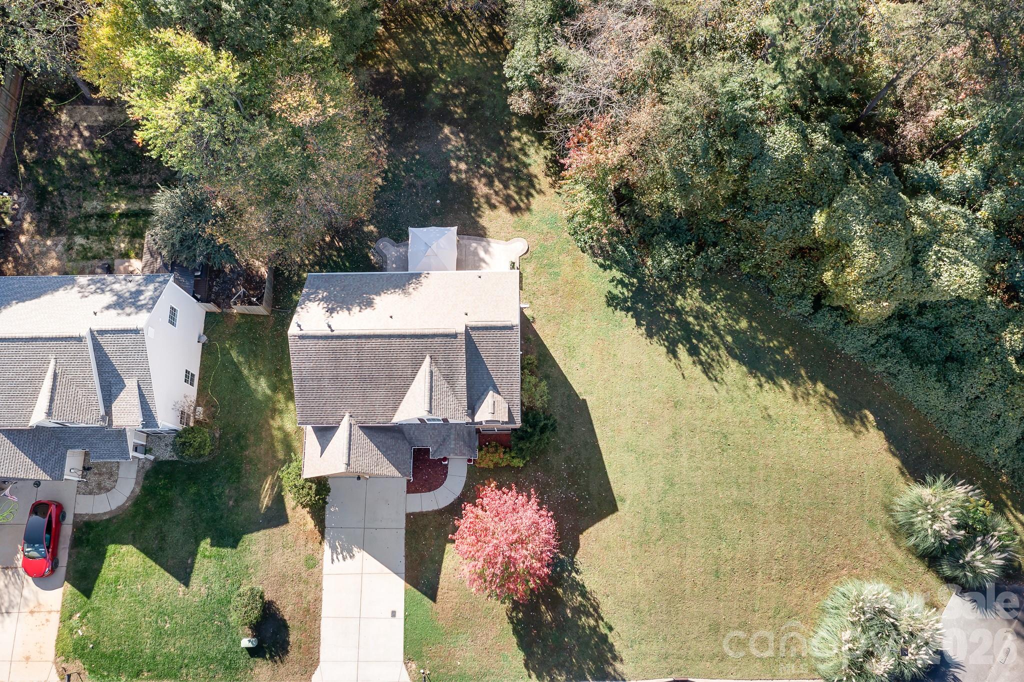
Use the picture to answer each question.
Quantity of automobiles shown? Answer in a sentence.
Altogether the scene contains 1 automobile.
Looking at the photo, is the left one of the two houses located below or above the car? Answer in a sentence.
The position of the left one of the two houses is above the car.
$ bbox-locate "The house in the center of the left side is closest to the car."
[0,273,205,482]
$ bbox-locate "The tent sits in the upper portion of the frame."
[407,227,459,270]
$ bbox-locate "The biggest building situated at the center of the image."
[288,270,522,482]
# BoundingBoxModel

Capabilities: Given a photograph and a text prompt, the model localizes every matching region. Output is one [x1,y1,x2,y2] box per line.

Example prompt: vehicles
[18,497,70,579]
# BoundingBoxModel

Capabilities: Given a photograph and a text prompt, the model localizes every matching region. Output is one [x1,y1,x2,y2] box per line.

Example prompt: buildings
[288,270,522,482]
[0,273,205,482]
